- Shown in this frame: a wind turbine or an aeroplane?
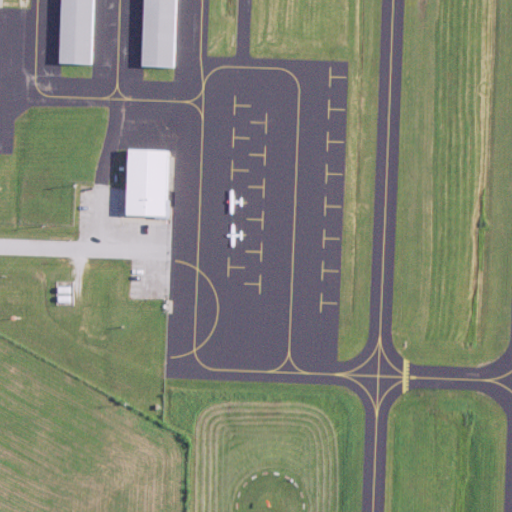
aeroplane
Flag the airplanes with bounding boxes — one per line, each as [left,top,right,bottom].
[228,190,244,216]
[228,224,244,248]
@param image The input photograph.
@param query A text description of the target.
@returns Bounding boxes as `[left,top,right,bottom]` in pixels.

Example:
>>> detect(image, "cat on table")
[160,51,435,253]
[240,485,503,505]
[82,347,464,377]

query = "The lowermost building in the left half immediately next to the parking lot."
[125,148,172,220]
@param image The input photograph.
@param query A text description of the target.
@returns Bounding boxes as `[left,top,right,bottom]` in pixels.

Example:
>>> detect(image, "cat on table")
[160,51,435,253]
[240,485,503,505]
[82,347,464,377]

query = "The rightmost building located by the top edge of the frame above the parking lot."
[141,0,179,70]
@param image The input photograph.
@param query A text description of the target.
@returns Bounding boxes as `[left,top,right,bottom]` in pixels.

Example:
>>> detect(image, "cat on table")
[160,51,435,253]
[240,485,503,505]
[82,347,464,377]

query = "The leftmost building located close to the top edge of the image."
[58,0,96,66]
